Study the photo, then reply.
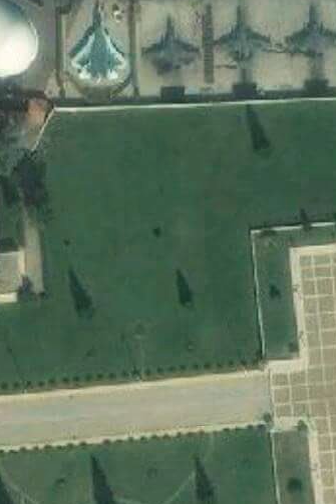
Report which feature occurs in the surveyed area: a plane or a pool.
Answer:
plane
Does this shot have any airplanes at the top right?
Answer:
Yes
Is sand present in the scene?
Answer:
No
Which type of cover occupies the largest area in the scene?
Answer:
grass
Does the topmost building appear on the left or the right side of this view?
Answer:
left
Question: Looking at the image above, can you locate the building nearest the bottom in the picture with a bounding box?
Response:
[0,251,24,302]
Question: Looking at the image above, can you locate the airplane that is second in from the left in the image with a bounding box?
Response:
[143,16,200,75]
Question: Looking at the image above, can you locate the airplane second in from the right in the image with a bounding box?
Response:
[215,6,272,62]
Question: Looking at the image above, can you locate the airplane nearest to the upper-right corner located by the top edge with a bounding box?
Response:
[287,7,336,59]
